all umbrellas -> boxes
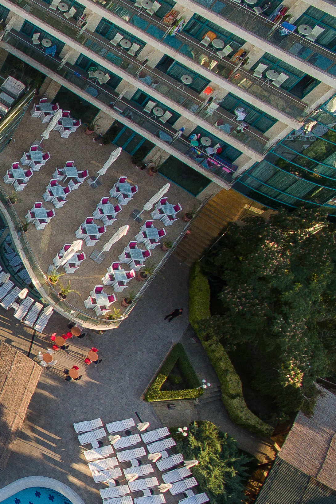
[42,242,76,276]
[85,150,120,190]
[137,454,156,465]
[97,435,118,447]
[148,483,170,496]
[124,423,146,436]
[88,229,125,266]
[129,187,167,224]
[29,109,60,150]
[115,474,136,486]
